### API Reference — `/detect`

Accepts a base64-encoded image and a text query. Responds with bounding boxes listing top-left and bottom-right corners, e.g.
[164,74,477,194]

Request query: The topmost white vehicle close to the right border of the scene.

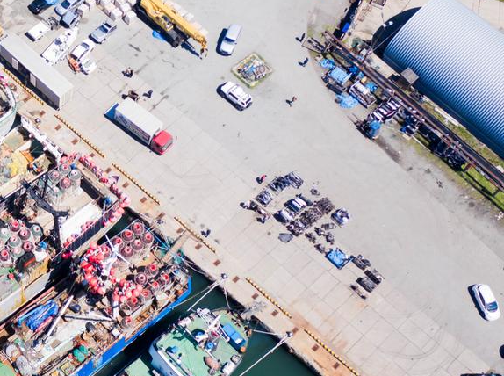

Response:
[471,280,504,322]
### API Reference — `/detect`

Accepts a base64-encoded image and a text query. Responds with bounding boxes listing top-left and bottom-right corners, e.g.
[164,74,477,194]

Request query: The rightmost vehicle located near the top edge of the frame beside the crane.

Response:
[219,15,244,54]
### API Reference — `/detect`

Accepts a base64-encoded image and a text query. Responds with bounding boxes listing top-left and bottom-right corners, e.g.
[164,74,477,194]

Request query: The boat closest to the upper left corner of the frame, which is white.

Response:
[40,21,82,58]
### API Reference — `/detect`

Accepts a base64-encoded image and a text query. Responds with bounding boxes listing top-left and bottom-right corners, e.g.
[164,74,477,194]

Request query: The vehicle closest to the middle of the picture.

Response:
[219,78,256,110]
